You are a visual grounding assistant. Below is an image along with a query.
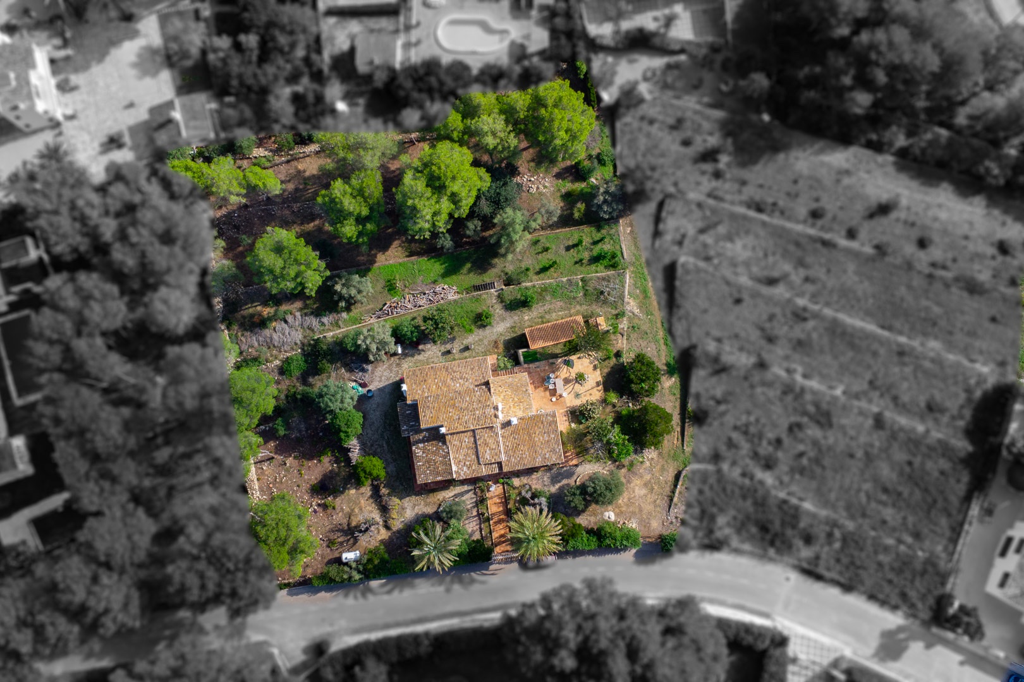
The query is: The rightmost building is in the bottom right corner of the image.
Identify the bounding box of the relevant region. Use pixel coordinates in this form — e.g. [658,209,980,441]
[970,509,1024,610]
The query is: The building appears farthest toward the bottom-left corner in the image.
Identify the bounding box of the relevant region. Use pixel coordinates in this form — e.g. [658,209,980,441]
[0,489,85,550]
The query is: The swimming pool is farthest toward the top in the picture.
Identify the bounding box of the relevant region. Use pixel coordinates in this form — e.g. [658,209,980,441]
[439,10,517,55]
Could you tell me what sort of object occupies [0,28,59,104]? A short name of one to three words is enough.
house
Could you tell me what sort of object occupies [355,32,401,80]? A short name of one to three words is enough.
building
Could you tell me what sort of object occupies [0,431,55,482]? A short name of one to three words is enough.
house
